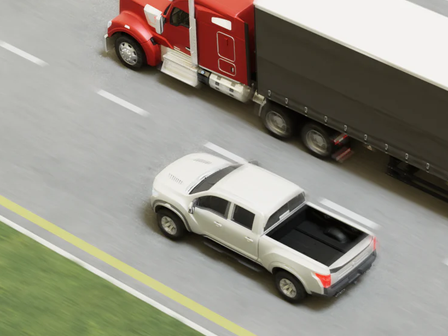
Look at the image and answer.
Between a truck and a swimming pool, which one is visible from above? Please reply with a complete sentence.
This aerial view contains a truck.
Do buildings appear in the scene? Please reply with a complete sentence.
No, I find no building anywhere in the image.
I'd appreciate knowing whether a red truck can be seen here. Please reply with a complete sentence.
Yes, a red truck appears in the view.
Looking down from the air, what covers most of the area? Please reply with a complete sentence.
The bulk of the photo consists of paved ground.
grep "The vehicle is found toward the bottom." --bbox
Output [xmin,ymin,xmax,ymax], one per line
[147,157,381,304]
